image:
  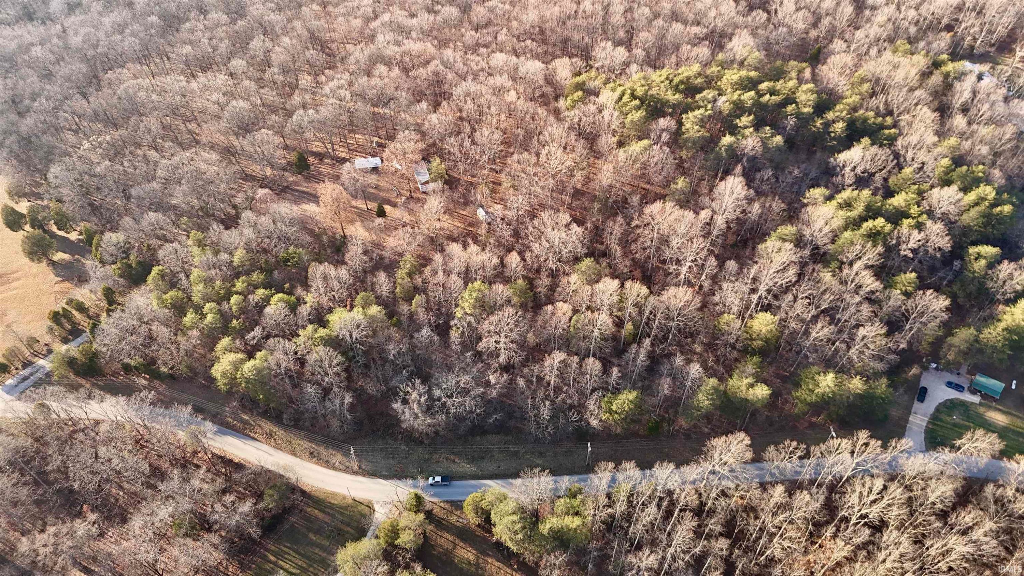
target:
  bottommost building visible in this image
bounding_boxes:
[969,374,1003,403]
